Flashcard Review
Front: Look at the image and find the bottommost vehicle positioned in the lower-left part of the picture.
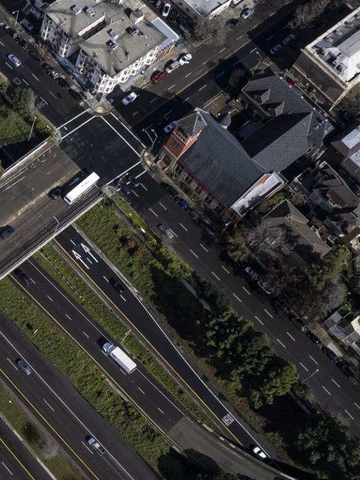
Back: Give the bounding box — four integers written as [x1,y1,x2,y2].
[86,435,106,456]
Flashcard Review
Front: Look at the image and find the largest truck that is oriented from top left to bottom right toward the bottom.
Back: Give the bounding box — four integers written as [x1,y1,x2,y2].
[105,343,135,375]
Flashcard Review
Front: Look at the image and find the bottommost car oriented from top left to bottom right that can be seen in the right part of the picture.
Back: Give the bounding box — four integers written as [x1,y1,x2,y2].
[251,443,268,461]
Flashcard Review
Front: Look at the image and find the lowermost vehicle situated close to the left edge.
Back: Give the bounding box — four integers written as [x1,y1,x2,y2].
[16,359,32,375]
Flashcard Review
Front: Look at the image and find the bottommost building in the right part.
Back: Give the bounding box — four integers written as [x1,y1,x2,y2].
[315,311,360,351]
